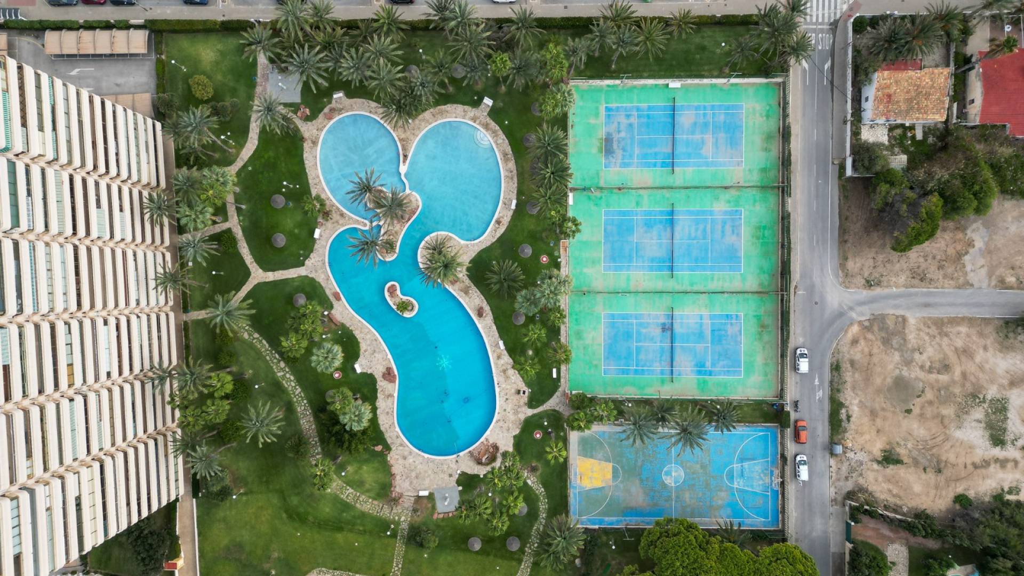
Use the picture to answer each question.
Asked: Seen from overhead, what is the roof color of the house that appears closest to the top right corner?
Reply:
red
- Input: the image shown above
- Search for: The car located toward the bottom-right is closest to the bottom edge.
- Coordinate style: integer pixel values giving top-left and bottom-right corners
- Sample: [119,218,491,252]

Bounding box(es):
[794,454,809,481]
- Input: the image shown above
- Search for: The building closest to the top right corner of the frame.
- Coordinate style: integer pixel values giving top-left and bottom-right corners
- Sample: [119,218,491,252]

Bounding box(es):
[967,49,1024,138]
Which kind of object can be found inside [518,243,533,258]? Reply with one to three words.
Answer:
umbrella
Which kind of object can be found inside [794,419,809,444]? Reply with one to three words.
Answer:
car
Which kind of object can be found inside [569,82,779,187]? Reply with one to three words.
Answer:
tennis court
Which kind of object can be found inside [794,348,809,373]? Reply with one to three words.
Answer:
car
